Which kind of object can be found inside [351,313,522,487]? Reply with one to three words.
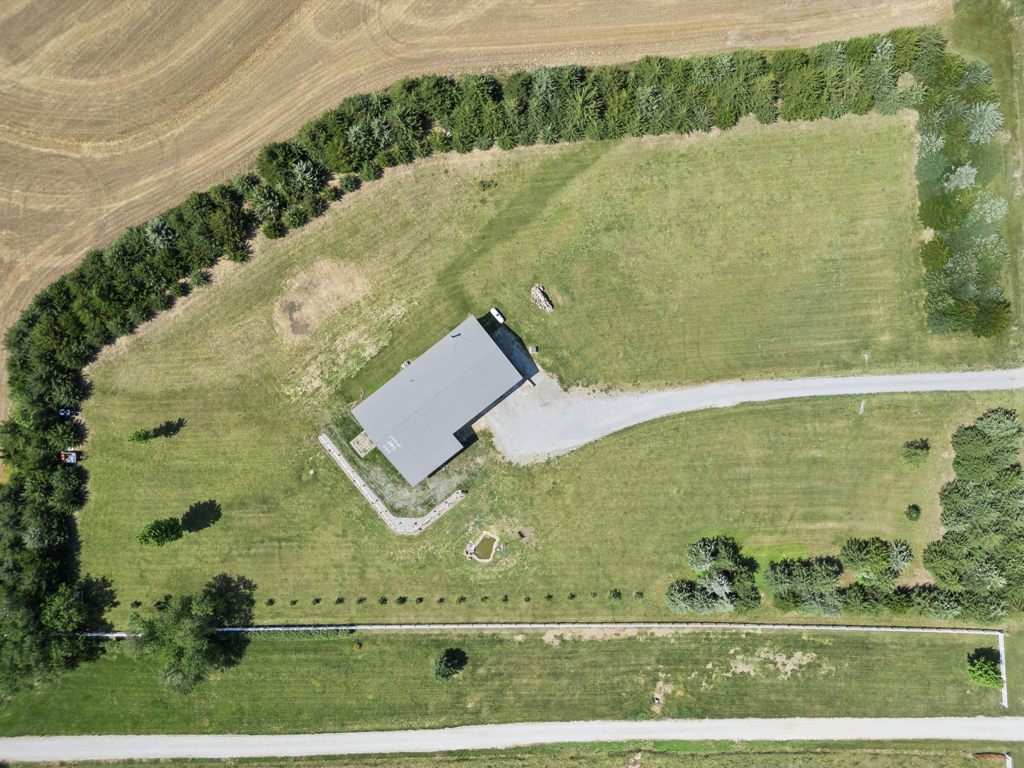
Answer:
house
